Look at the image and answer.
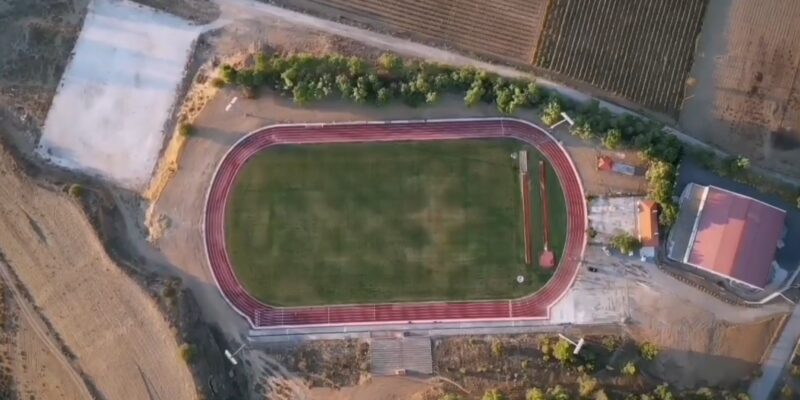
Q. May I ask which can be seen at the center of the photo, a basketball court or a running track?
running track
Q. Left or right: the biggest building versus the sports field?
on its right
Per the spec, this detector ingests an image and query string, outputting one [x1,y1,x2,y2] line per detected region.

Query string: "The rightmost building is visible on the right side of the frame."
[657,180,788,289]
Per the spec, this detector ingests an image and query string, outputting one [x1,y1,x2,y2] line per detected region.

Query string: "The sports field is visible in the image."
[226,137,568,308]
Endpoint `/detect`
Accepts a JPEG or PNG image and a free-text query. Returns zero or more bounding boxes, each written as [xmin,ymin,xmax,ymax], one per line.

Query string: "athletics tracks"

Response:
[205,116,588,330]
